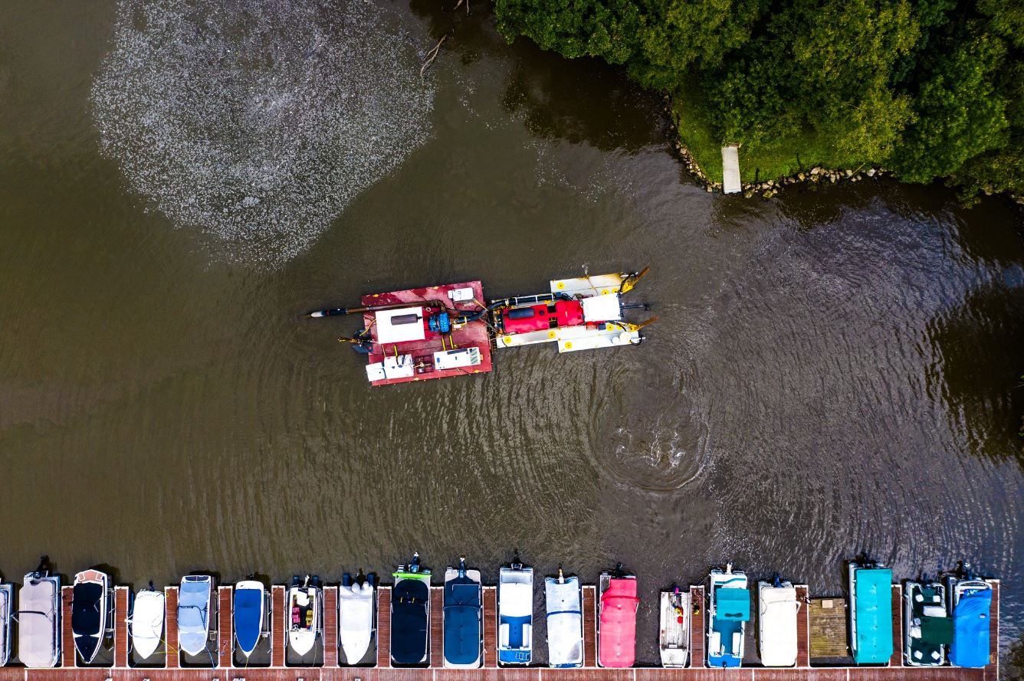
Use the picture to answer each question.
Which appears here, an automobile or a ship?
ship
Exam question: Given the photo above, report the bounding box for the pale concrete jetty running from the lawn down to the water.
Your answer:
[719,142,742,197]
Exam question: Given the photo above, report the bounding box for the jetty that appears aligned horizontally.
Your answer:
[0,576,999,681]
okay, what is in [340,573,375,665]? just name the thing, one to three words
boat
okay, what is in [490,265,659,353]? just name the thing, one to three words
ship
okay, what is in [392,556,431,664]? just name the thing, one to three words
boat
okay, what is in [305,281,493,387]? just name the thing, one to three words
ship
